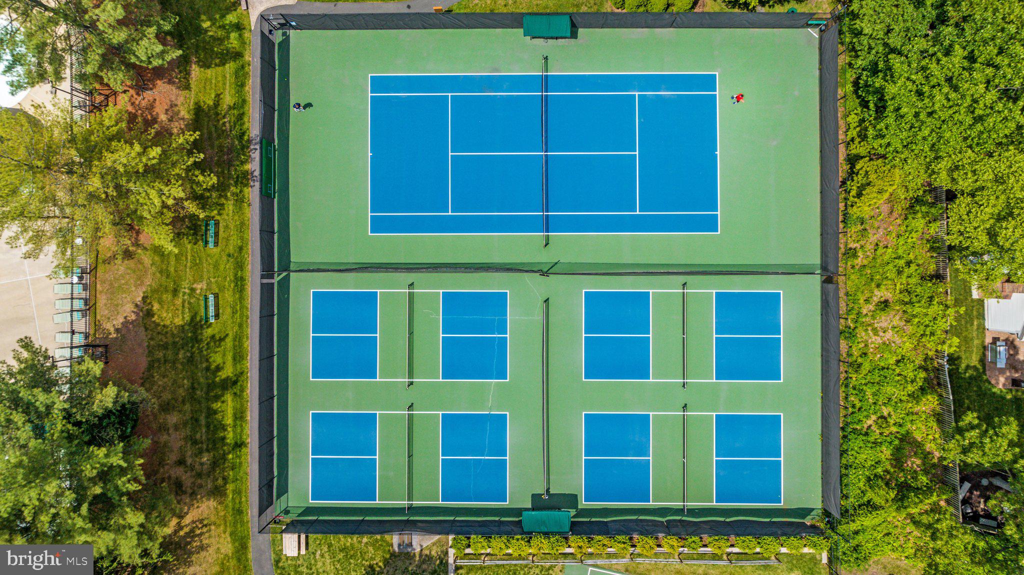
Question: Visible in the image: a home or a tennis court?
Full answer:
I can see a tennis court in this picture.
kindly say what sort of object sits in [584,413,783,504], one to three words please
sports court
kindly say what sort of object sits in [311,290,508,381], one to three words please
sports court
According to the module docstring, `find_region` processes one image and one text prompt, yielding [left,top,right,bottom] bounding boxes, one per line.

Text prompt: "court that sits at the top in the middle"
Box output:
[277,29,821,273]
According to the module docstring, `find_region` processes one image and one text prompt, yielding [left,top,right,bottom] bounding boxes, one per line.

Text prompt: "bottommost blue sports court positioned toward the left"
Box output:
[310,412,508,503]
